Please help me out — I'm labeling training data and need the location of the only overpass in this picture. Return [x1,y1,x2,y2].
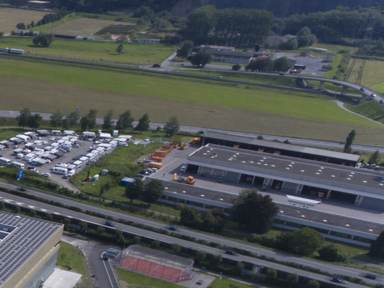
[171,69,384,110]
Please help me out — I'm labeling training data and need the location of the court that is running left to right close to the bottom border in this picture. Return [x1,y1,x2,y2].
[117,239,197,283]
